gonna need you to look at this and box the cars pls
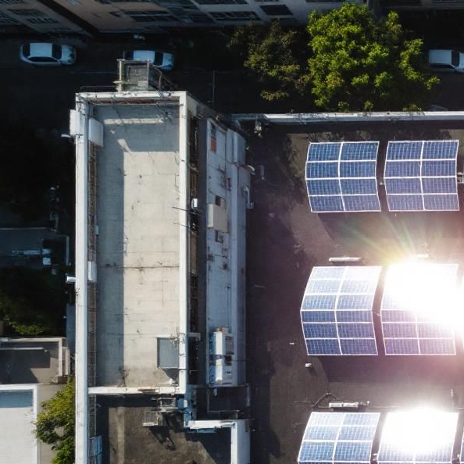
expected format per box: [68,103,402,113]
[22,40,79,68]
[424,48,464,75]
[121,45,179,74]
